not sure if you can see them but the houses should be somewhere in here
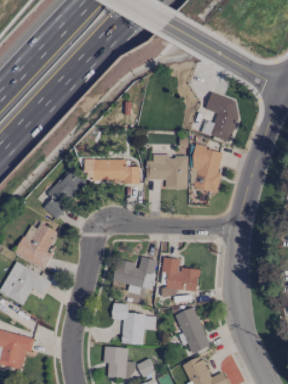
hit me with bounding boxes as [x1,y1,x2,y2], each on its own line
[110,304,156,346]
[197,92,244,142]
[112,259,156,295]
[0,332,34,368]
[104,348,135,380]
[16,221,62,274]
[0,262,49,306]
[43,174,86,221]
[182,356,230,384]
[190,144,221,194]
[146,156,188,190]
[83,158,142,185]
[159,258,200,296]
